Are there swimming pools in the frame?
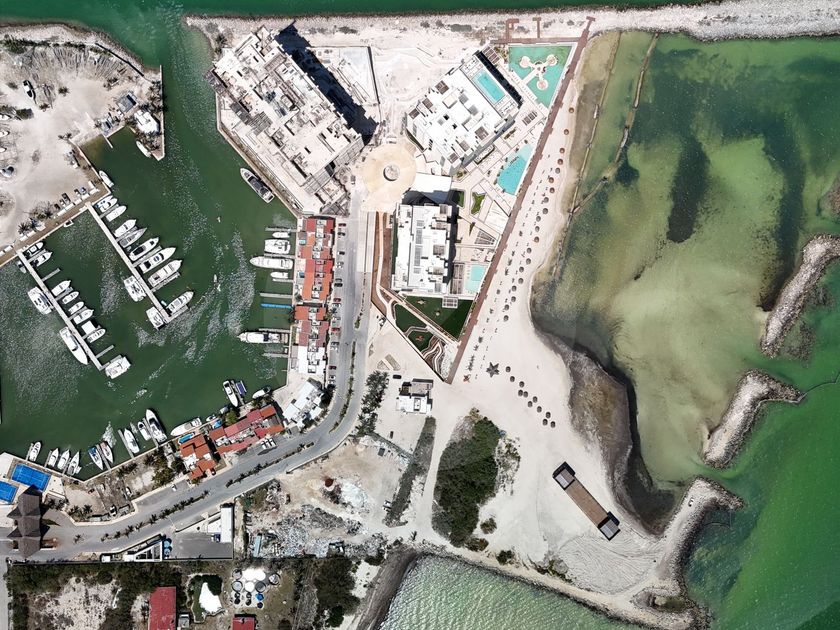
Yes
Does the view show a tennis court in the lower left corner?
Yes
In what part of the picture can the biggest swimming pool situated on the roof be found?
top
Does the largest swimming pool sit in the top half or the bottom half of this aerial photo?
top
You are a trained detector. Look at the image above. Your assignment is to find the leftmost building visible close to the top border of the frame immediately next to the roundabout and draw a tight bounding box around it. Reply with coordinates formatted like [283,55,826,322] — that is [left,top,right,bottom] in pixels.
[213,26,365,192]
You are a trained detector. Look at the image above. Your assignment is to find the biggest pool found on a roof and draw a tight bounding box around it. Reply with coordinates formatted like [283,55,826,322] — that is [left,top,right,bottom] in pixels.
[478,73,505,103]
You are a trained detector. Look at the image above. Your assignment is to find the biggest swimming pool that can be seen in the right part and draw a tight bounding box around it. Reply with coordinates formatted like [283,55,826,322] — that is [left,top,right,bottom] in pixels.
[508,45,573,108]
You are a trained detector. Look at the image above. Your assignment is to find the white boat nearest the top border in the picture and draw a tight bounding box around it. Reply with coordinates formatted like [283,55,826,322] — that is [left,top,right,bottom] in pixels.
[20,78,33,100]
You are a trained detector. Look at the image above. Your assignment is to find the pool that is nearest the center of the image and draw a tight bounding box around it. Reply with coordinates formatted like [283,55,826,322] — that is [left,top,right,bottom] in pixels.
[465,265,486,292]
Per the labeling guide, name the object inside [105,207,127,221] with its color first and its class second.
white boat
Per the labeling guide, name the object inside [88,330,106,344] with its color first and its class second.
white boat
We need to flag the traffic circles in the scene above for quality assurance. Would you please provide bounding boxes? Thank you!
[362,148,417,212]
